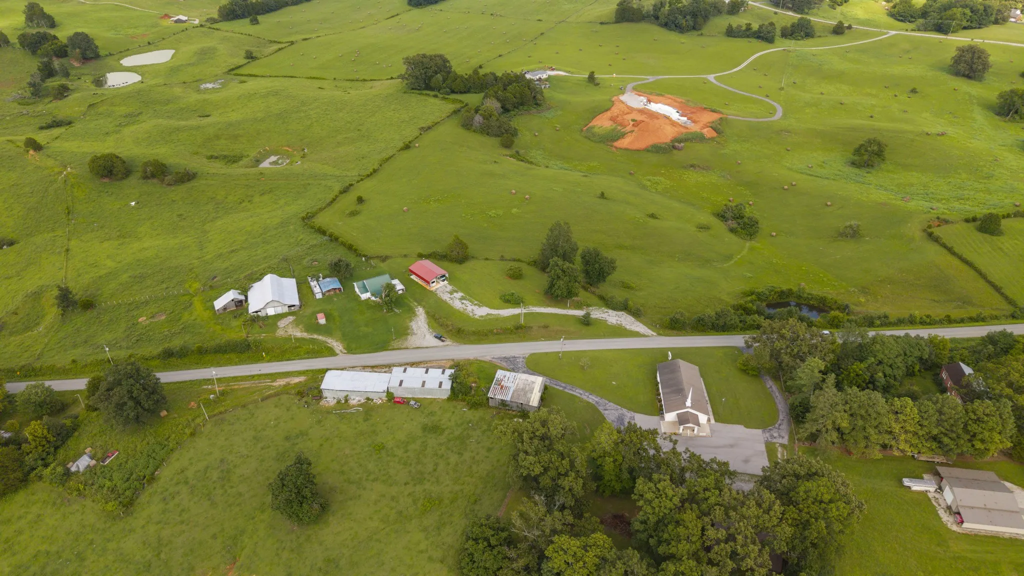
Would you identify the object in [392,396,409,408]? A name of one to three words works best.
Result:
vehicle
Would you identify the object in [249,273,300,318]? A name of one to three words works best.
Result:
barn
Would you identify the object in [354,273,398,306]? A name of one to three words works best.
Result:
house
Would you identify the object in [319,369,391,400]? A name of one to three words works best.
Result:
shed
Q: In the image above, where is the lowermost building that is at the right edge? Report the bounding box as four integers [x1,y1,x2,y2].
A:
[935,466,1024,536]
